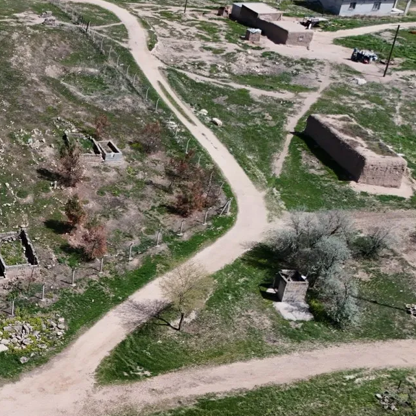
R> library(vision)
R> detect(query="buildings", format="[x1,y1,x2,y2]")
[317,111,409,184]
[264,265,324,320]
[226,0,316,46]
[308,0,413,16]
